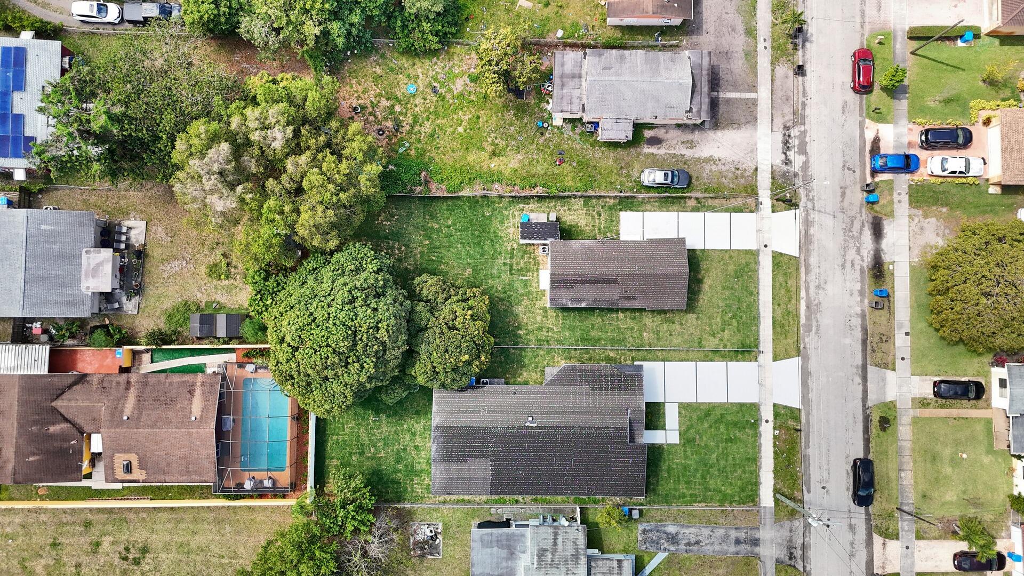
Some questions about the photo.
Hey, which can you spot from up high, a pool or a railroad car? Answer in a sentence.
Looking from above, you can make out a pool.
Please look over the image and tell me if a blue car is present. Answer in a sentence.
Yes, there's a blue car down there.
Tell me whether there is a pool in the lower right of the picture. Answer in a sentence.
No, there is no pool in the lower right of the picture.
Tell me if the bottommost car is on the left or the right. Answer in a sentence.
It is on the right.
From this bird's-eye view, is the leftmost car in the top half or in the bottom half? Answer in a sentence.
You can find the leftmost car in the top half.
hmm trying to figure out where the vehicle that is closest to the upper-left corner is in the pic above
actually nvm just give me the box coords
[71,0,124,24]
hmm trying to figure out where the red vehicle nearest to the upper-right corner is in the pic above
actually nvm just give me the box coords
[850,48,877,95]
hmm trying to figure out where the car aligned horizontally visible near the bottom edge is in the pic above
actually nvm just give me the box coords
[953,549,1006,575]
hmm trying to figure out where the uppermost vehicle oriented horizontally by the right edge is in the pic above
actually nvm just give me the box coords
[918,125,974,151]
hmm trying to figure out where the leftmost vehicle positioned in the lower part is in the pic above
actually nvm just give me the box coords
[851,459,877,508]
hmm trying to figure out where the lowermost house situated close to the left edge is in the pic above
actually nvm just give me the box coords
[0,371,225,484]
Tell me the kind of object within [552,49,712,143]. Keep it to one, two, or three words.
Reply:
house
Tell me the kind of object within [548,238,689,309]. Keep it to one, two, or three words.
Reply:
house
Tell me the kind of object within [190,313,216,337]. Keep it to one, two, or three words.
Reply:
shed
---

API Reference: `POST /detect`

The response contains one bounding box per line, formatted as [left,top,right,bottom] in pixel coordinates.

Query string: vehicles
[953,549,1006,575]
[1016,205,1024,225]
[927,154,985,179]
[123,0,186,26]
[850,48,877,95]
[851,459,877,508]
[640,166,689,190]
[918,125,974,151]
[871,152,921,175]
[71,0,124,24]
[932,378,985,402]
